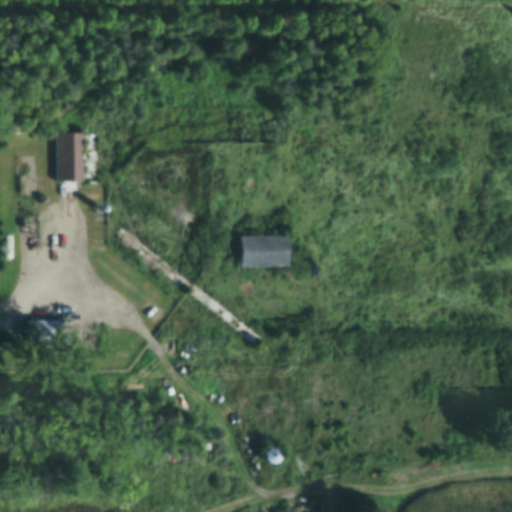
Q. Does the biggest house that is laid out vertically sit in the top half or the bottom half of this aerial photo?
top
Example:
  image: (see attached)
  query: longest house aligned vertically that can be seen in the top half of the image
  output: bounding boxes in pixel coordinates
[56,132,84,194]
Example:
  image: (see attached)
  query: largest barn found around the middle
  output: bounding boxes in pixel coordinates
[240,236,292,267]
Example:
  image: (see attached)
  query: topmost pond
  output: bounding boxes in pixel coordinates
[441,388,512,452]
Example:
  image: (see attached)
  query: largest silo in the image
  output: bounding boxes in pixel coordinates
[262,448,284,466]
